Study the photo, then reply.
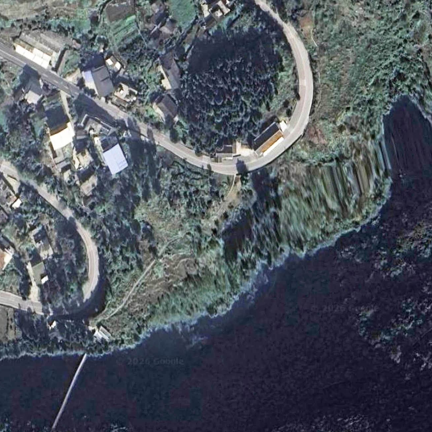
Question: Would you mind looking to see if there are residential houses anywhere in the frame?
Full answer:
Yes, looking at the shot, I can spot a residential house.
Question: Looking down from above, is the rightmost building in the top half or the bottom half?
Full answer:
It is in the top half that the rightmost building appears.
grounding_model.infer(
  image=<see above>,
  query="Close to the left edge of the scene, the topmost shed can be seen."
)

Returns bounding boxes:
[14,32,66,68]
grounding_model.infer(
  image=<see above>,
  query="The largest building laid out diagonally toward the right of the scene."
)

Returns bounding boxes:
[254,121,287,157]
